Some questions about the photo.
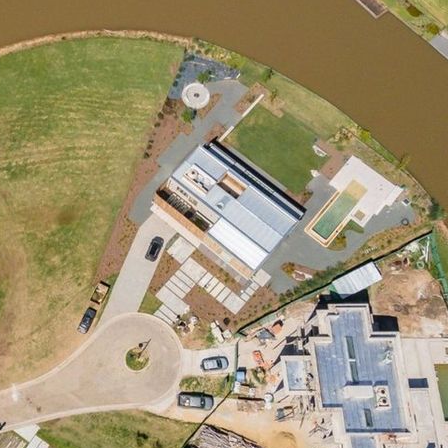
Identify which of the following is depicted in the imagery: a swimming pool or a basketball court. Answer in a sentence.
The one in the frame is a swimming pool.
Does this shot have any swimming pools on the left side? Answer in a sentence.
No, looking on the left side, there is no swimming pool.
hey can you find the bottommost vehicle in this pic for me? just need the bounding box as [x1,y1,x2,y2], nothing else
[176,394,213,412]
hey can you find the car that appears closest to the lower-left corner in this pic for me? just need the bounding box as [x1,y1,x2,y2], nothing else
[76,305,98,336]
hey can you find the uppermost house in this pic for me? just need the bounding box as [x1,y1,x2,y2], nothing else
[150,136,309,275]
